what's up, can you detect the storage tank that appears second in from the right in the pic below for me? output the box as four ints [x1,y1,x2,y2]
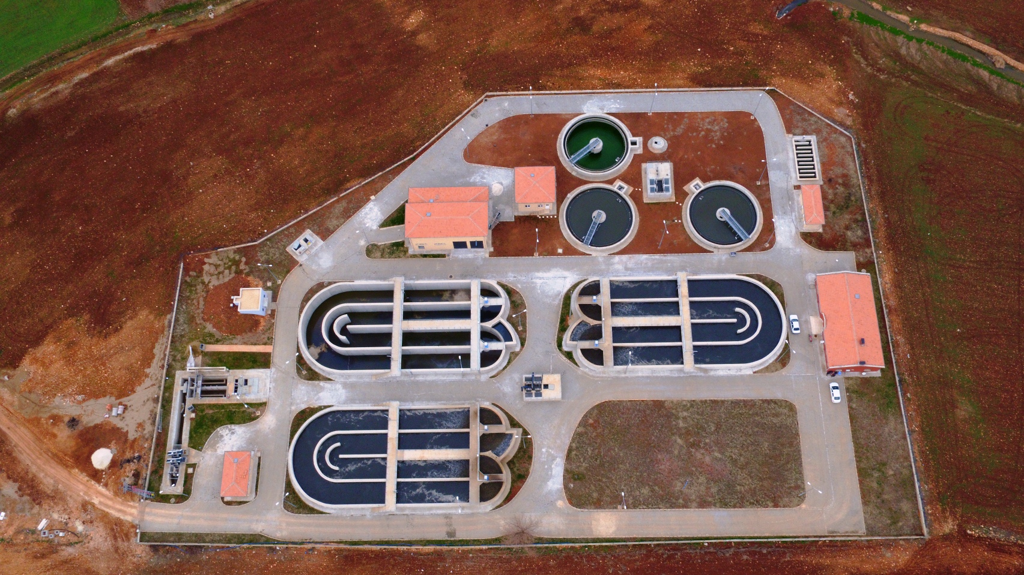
[682,176,763,254]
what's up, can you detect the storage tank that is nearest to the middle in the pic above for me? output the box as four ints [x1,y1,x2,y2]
[559,178,639,256]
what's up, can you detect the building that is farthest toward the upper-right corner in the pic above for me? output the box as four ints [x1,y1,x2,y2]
[793,184,828,232]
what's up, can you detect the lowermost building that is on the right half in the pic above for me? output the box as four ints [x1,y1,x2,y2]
[807,272,885,378]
